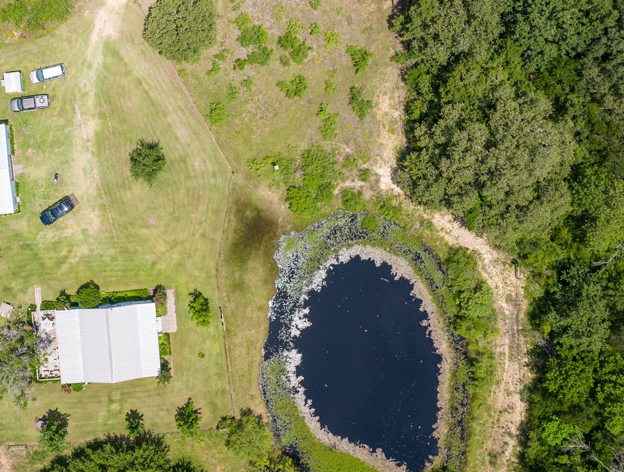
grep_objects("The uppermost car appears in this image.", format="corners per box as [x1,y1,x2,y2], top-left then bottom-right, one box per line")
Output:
[30,65,68,83]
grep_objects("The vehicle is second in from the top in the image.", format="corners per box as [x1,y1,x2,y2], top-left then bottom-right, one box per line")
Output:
[9,95,52,113]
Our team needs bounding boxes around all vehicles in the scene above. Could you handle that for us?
[30,65,68,83]
[9,95,52,113]
[41,193,81,226]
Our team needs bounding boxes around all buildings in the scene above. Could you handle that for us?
[54,302,160,384]
[3,72,25,94]
[0,124,17,215]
